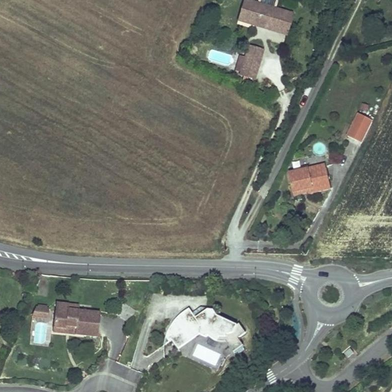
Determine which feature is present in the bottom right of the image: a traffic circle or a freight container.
traffic circle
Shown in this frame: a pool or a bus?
pool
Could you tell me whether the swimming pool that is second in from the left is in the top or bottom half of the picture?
bottom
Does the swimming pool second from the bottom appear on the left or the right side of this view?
left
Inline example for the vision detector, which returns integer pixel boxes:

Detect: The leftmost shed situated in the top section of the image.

[235,44,264,80]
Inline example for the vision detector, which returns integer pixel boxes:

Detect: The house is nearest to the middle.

[287,162,330,198]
